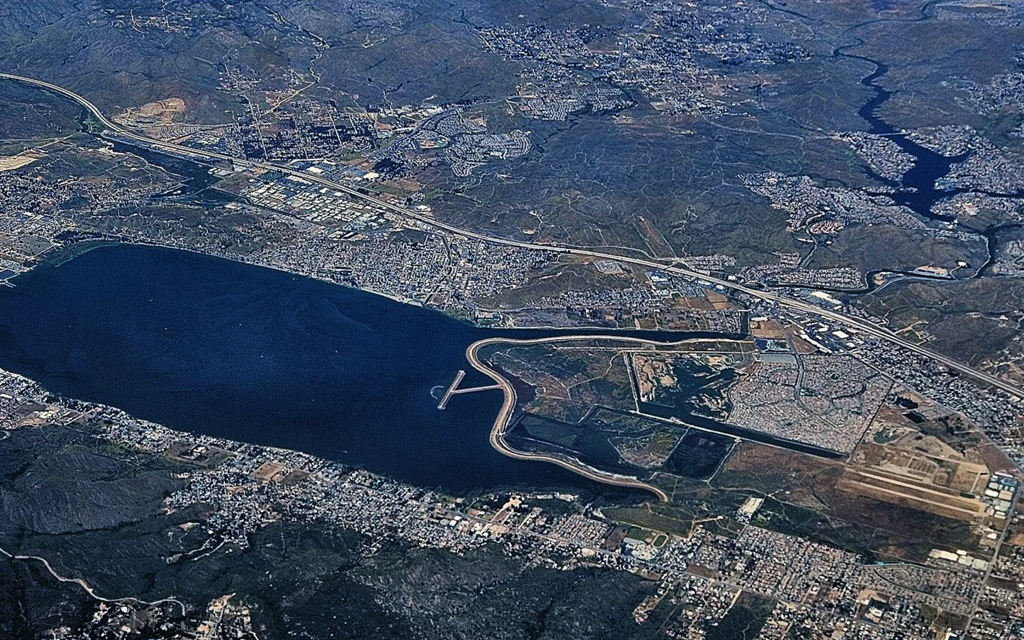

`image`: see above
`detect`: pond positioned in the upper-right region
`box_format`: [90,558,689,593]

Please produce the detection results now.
[859,64,1024,223]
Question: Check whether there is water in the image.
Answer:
Yes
